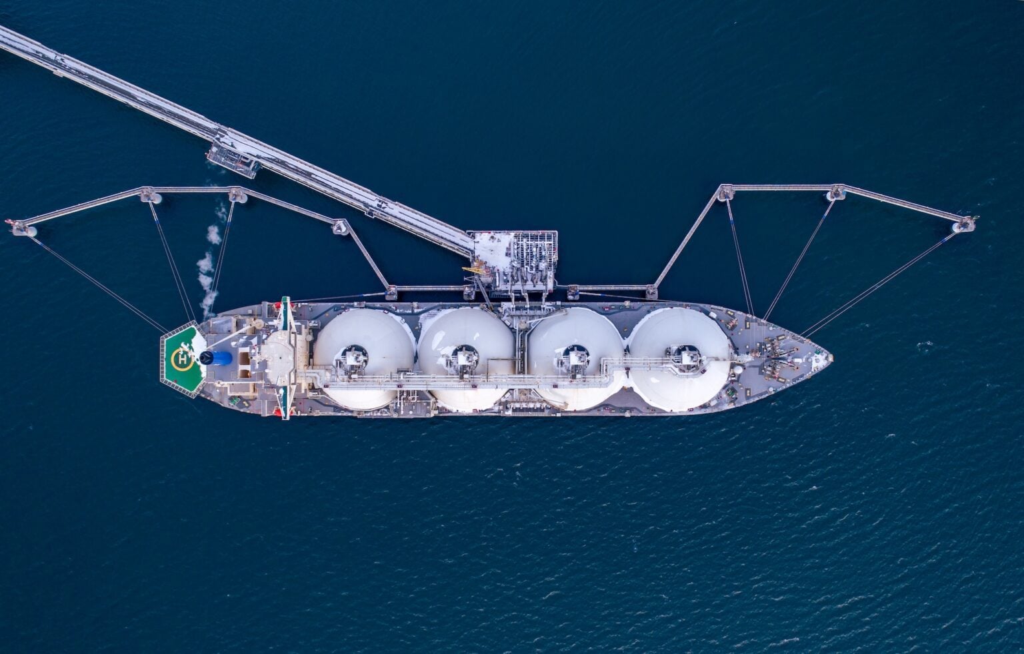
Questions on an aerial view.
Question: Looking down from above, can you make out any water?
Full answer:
Yes, water shows up in the scene.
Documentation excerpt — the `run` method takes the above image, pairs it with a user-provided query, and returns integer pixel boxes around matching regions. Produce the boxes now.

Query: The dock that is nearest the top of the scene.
[0,24,467,254]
